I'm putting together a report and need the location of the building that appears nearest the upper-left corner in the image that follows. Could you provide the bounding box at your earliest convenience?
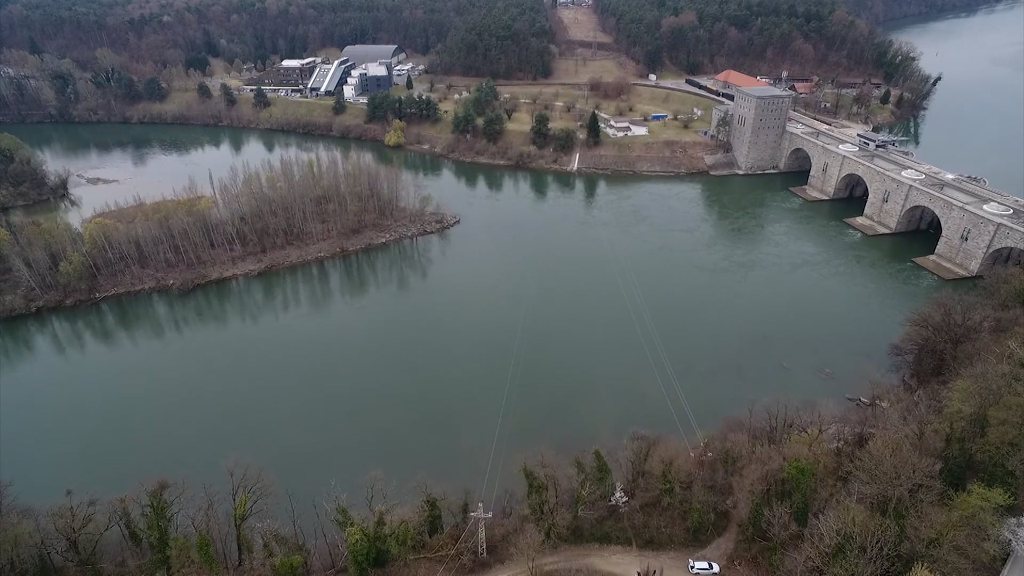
[226,58,326,98]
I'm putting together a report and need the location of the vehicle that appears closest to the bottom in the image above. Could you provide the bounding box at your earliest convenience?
[686,556,721,576]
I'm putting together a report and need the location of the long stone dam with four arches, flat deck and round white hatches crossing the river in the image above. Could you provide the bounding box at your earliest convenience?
[782,108,1024,276]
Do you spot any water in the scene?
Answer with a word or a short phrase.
Yes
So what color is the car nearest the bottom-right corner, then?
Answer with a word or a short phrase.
white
